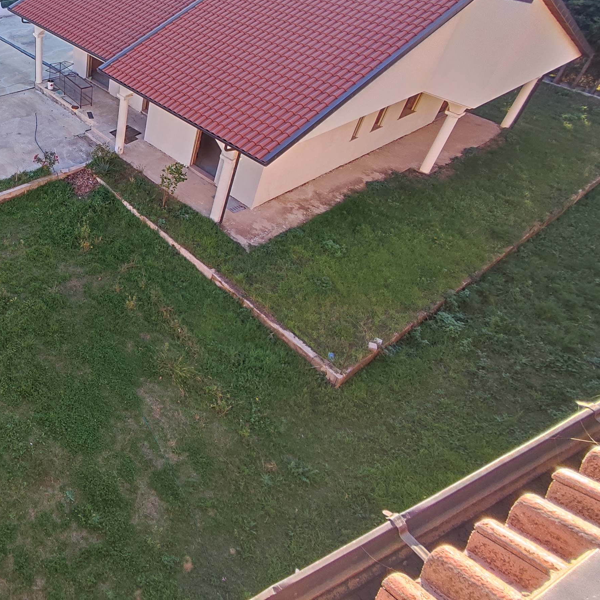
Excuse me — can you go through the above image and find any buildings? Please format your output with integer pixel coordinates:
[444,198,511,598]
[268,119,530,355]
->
[233,395,600,600]
[2,0,600,255]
